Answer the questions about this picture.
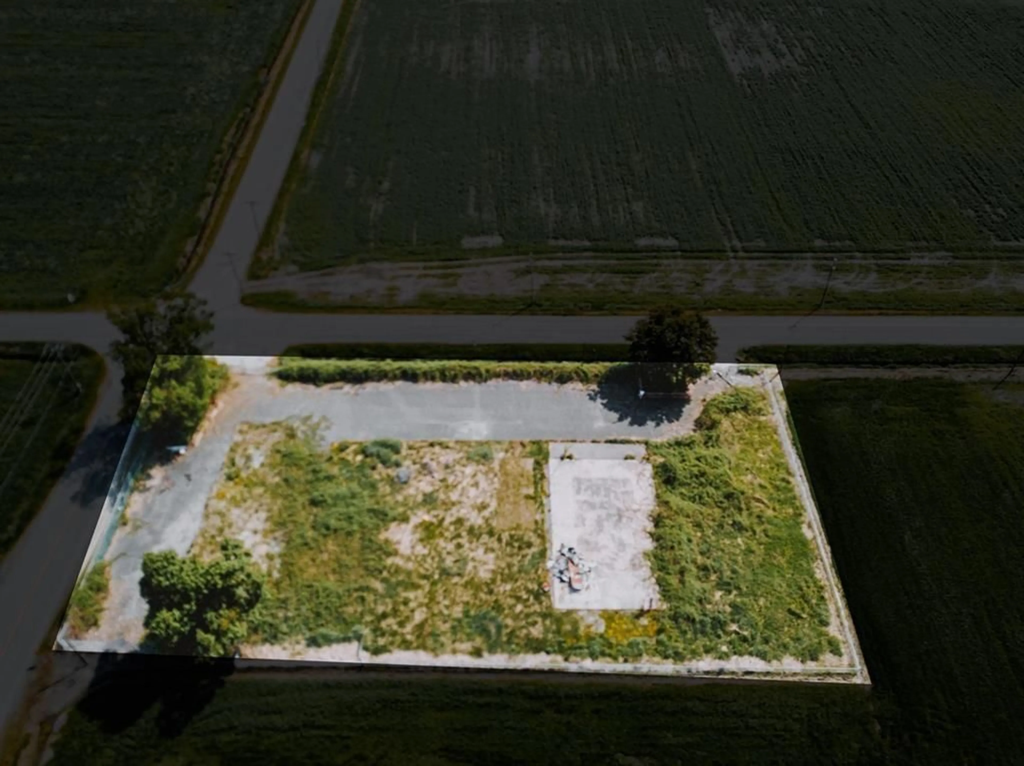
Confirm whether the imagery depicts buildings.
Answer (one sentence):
No, there is no building in the image.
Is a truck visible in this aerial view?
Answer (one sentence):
No, no truck is visible in the view.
